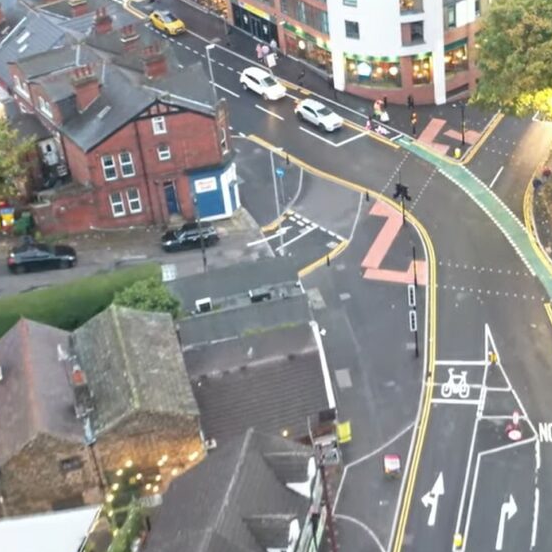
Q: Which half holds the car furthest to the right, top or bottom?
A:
top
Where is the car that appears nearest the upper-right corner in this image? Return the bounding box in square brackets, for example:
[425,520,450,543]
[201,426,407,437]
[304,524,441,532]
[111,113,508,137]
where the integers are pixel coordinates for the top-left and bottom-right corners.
[290,92,344,128]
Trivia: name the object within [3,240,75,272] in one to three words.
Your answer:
car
